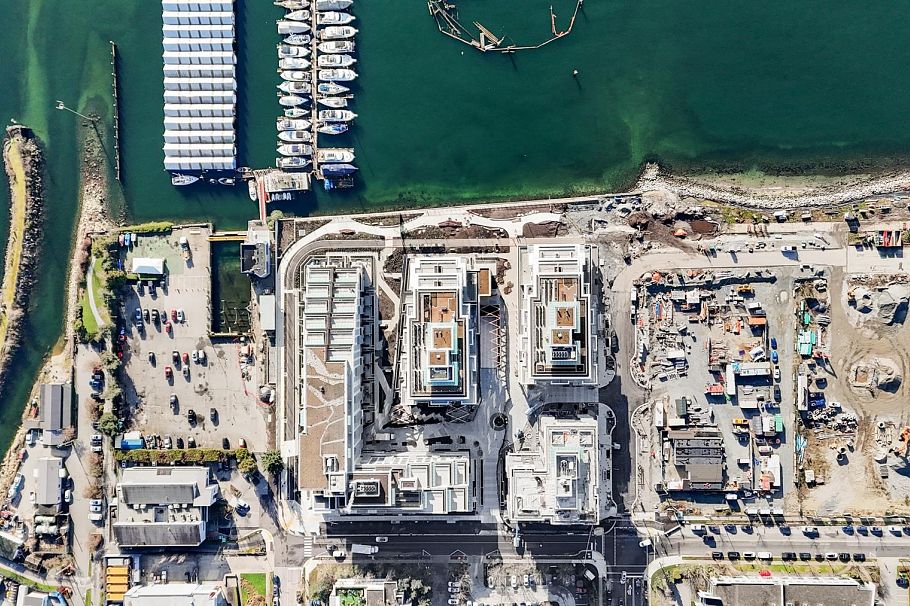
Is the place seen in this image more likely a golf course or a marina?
marina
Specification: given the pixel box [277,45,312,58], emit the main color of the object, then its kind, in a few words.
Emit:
white boat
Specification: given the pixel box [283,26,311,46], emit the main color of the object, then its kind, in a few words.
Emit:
white boat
